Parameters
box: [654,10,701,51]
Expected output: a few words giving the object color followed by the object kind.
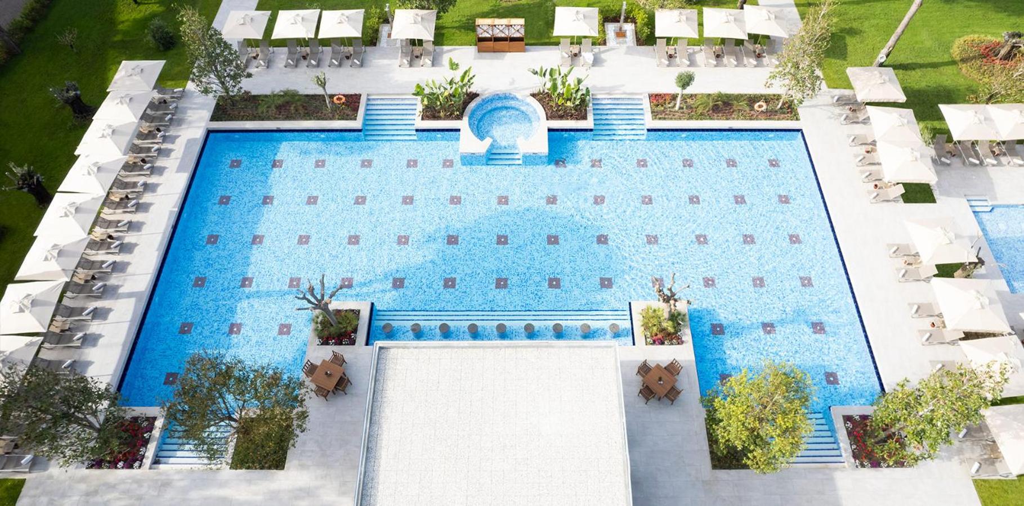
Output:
white umbrella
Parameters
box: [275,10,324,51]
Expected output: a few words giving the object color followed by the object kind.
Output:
white umbrella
